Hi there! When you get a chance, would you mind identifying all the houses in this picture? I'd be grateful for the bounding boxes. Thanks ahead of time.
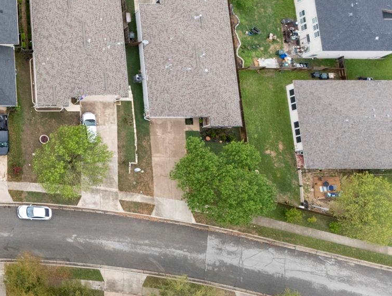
[0,0,20,108]
[27,0,130,108]
[133,0,243,127]
[283,80,392,170]
[291,0,392,58]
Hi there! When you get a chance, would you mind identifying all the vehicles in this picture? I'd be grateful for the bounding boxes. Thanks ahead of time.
[84,111,102,146]
[16,204,53,220]
[0,112,12,156]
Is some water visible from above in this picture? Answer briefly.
No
